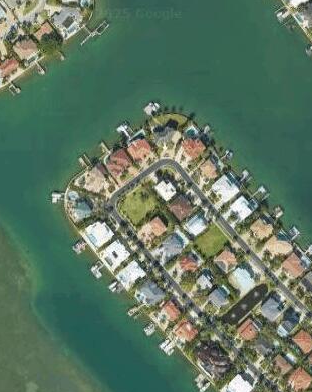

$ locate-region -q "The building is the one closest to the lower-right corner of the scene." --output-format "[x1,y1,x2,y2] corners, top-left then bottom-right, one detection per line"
[289,366,312,392]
